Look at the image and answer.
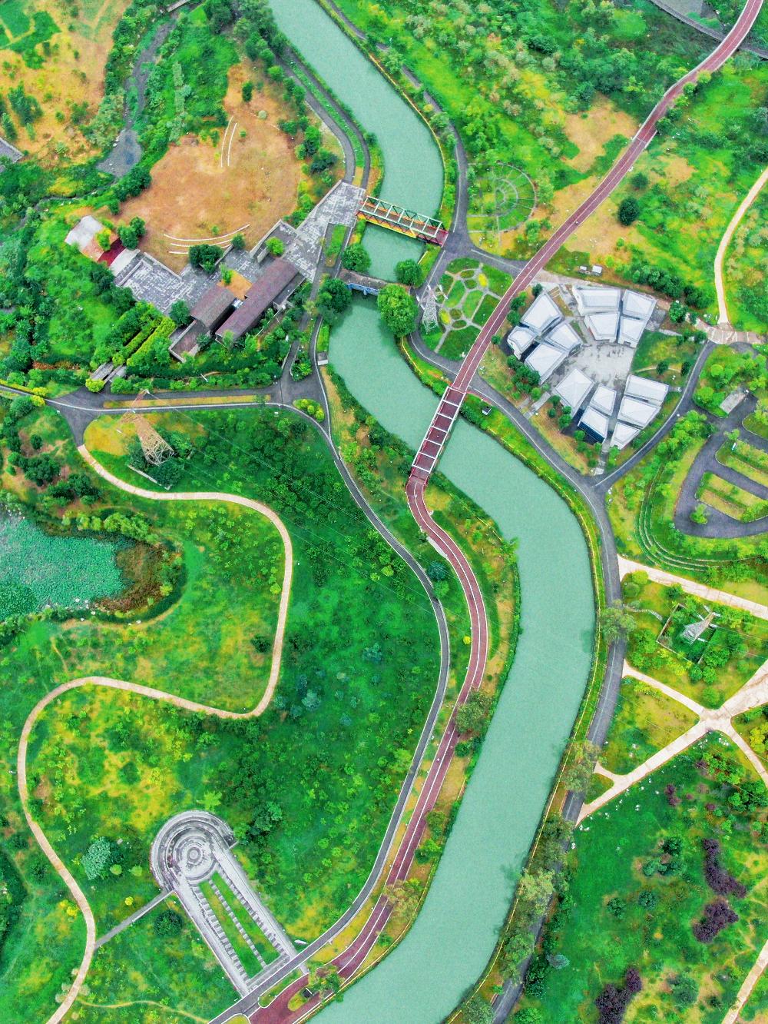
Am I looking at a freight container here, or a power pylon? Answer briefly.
power pylon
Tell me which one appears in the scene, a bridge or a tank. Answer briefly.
bridge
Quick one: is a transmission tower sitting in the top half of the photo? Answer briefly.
Yes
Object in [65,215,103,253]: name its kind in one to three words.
shed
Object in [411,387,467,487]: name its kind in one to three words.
bridge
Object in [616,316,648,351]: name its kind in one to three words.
building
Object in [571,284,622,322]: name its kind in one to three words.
building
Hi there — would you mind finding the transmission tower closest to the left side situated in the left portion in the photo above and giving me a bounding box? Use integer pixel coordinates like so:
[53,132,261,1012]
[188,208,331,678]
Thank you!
[122,397,175,468]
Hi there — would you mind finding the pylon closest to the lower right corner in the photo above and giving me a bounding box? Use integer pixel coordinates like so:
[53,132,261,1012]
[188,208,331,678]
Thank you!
[682,603,722,644]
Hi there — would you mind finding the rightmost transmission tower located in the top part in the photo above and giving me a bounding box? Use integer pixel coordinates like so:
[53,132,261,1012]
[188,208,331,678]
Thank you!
[418,286,447,333]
